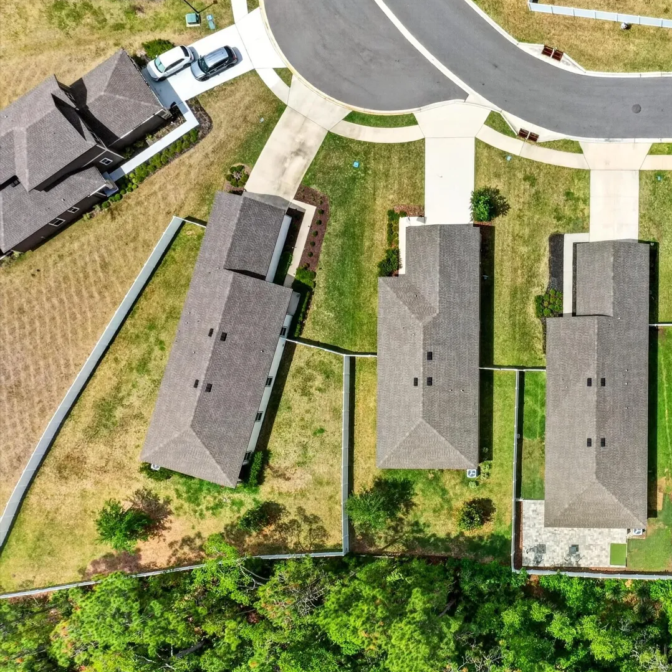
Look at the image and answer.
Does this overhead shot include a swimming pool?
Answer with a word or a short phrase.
No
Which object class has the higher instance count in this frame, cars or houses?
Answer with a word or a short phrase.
houses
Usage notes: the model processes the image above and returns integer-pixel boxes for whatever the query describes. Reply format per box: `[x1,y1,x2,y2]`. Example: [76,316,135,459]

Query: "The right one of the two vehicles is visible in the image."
[192,44,240,83]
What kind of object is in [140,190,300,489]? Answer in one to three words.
house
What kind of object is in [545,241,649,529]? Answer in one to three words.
house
